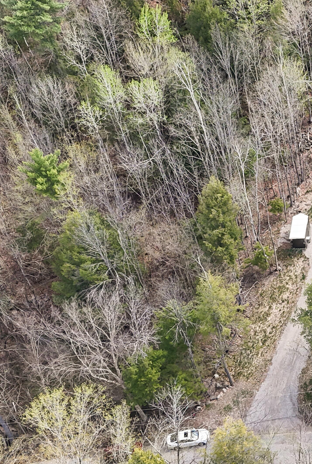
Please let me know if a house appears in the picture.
No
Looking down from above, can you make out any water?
No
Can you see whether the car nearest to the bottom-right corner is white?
Yes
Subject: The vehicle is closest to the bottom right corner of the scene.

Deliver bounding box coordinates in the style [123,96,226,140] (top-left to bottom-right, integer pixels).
[165,427,210,451]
